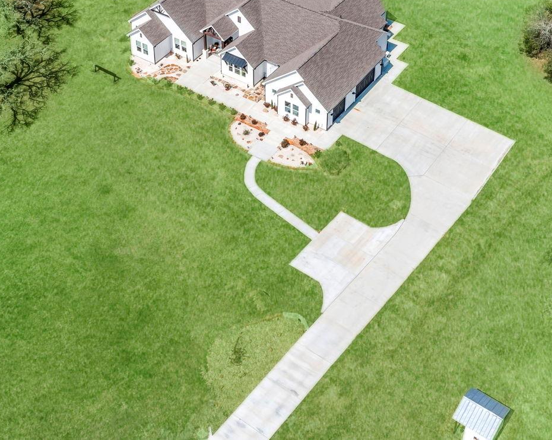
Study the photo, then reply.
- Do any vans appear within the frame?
No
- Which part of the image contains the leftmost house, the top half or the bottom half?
top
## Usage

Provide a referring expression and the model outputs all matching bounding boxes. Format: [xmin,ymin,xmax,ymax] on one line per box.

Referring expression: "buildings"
[453,390,508,440]
[126,0,394,132]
